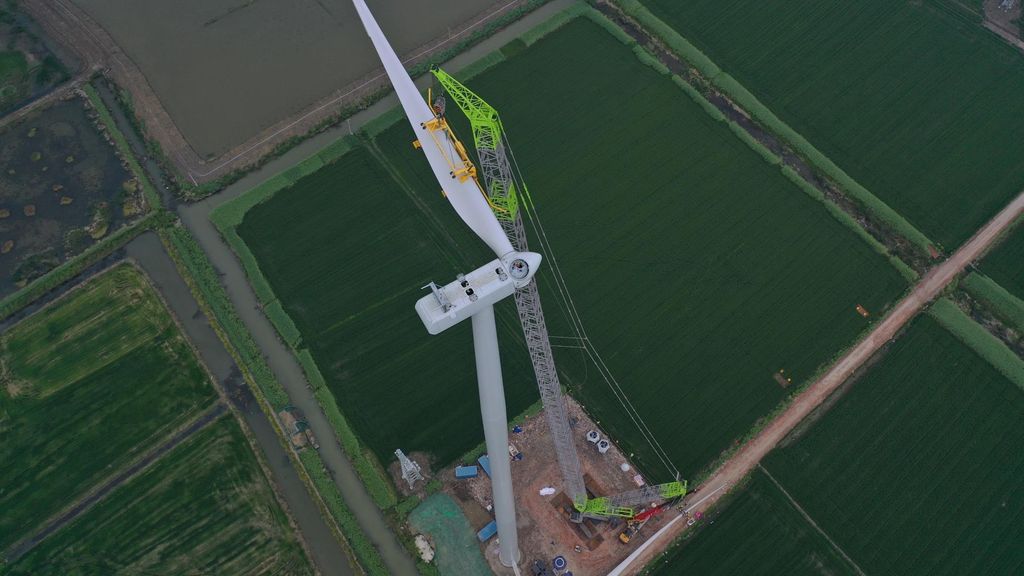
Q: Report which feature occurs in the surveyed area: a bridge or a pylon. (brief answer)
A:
pylon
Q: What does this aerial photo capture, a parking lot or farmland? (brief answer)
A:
farmland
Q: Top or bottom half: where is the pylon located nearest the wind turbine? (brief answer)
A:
bottom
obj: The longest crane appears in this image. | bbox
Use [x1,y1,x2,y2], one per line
[430,61,683,539]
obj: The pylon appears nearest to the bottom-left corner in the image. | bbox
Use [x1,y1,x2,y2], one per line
[395,446,424,489]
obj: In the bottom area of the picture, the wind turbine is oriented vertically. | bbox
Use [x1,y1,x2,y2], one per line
[415,255,543,576]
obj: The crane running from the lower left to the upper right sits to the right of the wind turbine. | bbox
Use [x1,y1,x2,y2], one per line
[621,486,700,543]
